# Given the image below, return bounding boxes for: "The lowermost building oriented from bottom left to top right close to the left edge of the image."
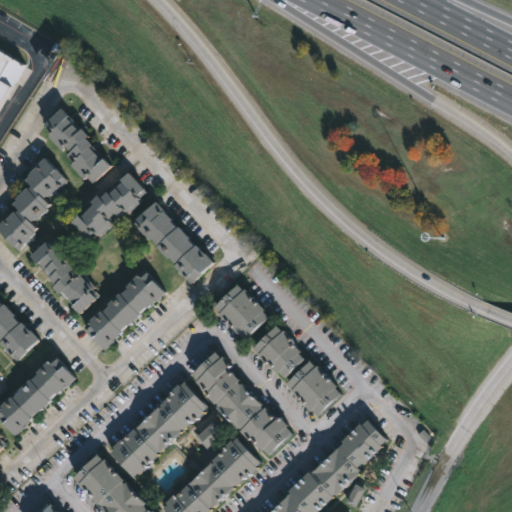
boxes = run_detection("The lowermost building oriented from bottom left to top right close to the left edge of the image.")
[0,358,78,436]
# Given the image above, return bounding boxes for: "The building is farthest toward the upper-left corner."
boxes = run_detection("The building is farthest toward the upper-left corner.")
[0,50,30,108]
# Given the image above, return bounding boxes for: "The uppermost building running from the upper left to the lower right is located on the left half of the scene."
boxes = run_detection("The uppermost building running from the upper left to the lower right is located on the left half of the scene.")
[48,110,115,184]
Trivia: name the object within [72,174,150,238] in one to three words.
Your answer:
building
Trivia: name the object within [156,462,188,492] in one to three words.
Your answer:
swimming pool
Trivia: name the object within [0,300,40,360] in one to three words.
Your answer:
building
